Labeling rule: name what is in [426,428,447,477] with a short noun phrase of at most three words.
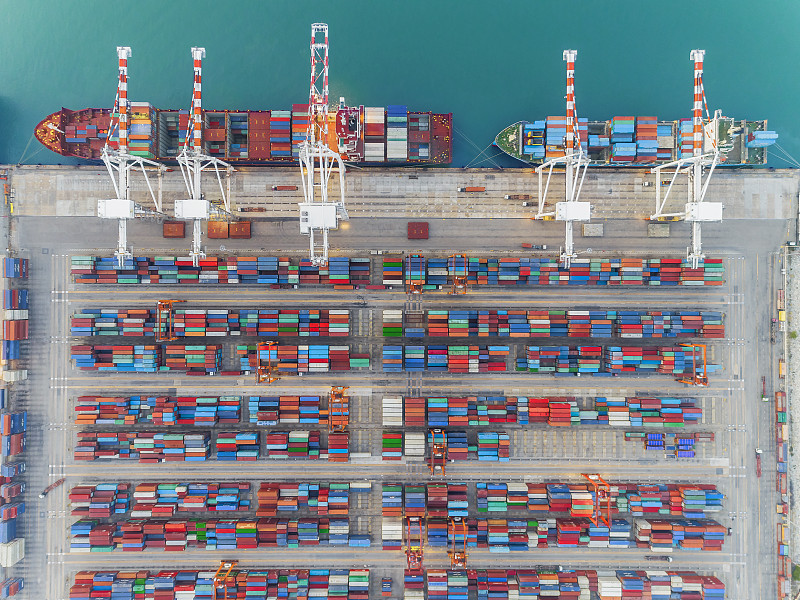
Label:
container crane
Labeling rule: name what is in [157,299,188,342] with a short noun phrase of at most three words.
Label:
container crane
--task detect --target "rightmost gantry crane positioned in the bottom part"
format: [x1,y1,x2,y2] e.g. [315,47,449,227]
[673,341,707,388]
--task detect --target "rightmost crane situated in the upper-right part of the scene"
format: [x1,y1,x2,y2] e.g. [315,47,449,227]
[642,46,722,267]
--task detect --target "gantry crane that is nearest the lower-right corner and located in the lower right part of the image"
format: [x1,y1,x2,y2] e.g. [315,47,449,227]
[581,474,609,525]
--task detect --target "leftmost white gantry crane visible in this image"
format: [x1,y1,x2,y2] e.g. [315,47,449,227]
[98,46,175,267]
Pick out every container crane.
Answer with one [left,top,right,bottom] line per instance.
[404,516,424,570]
[256,341,282,385]
[329,386,351,434]
[404,252,424,298]
[174,46,242,267]
[528,46,591,267]
[581,474,609,525]
[213,562,241,600]
[447,251,468,294]
[446,516,468,570]
[157,299,188,342]
[642,46,722,267]
[98,46,175,267]
[426,428,447,477]
[673,341,707,388]
[298,23,352,262]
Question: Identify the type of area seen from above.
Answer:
port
